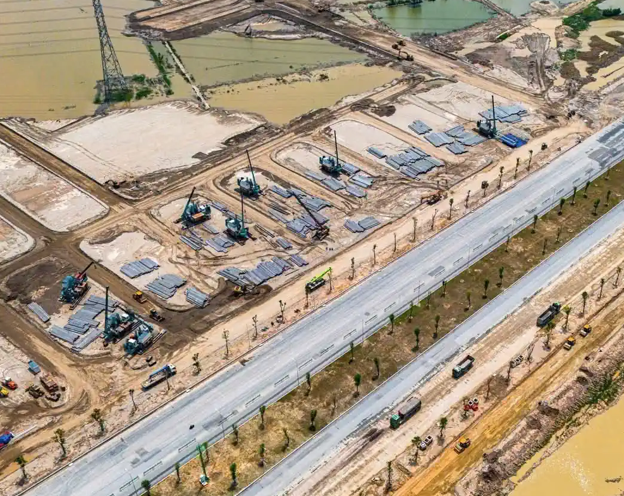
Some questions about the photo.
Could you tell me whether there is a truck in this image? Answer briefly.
Yes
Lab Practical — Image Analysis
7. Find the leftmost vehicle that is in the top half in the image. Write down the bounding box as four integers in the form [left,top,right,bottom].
[103,171,121,188]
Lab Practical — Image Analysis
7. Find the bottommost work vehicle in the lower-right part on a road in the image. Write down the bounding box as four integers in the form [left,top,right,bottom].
[453,434,471,453]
